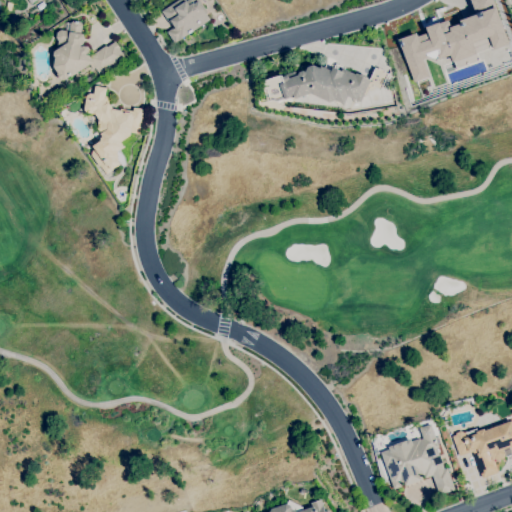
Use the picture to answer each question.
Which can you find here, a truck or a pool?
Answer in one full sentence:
Looking from above, you can make out a pool.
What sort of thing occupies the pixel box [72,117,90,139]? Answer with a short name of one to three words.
swimming pool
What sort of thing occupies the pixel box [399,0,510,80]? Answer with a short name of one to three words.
house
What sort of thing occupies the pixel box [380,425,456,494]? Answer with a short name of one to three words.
house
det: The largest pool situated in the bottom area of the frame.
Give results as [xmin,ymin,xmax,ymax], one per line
[451,411,474,426]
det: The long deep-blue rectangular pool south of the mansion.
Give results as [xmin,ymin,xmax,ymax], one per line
[448,62,487,84]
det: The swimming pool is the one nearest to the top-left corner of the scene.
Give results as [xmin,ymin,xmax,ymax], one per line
[34,46,50,76]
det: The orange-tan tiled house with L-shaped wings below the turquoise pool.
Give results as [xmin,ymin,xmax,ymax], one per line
[452,420,512,480]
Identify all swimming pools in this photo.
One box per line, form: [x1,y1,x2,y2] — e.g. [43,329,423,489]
[451,411,474,426]
[448,62,487,84]
[72,117,90,139]
[388,431,408,440]
[34,46,50,76]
